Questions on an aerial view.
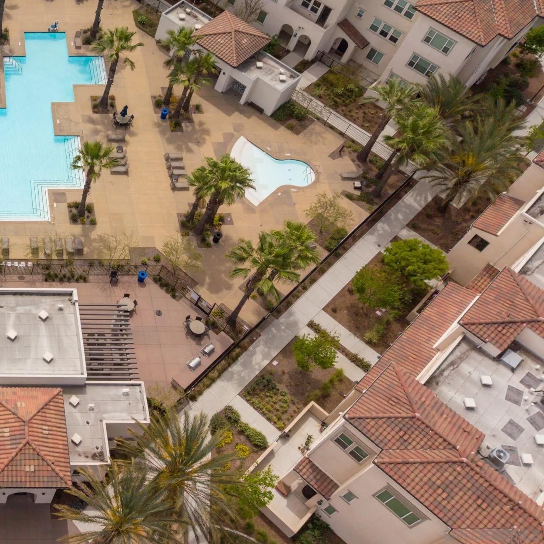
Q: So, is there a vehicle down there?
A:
No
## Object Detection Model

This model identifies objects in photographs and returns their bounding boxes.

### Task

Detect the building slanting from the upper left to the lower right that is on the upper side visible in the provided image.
[155,0,312,120]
